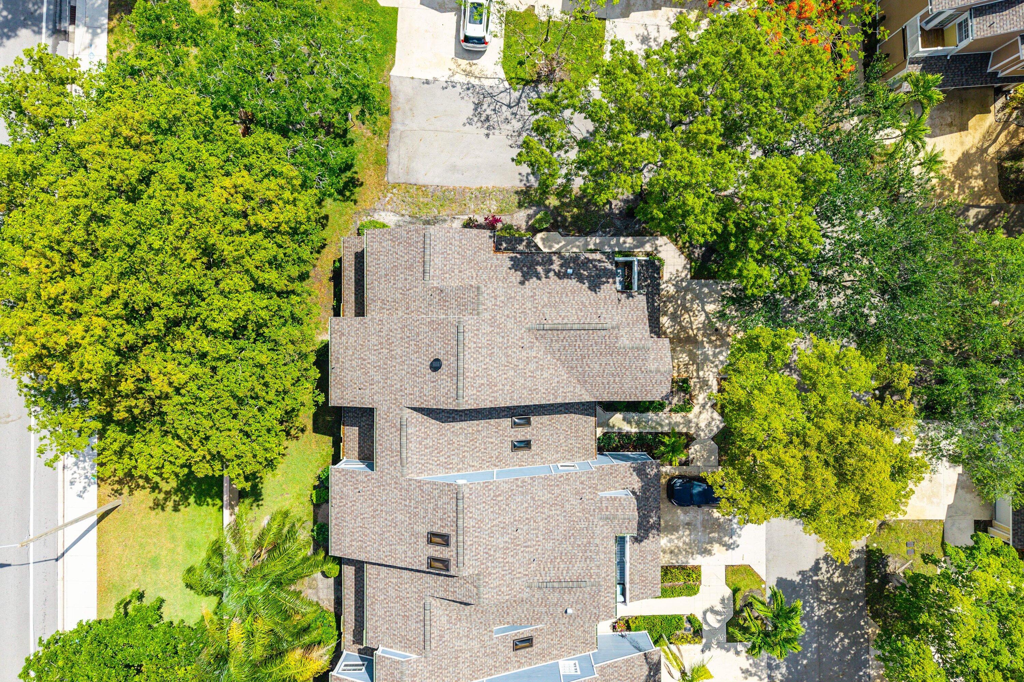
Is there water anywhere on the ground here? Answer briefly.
No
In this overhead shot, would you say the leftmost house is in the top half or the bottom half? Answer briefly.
bottom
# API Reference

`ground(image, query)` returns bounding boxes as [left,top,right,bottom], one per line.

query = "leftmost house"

[328,225,672,682]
